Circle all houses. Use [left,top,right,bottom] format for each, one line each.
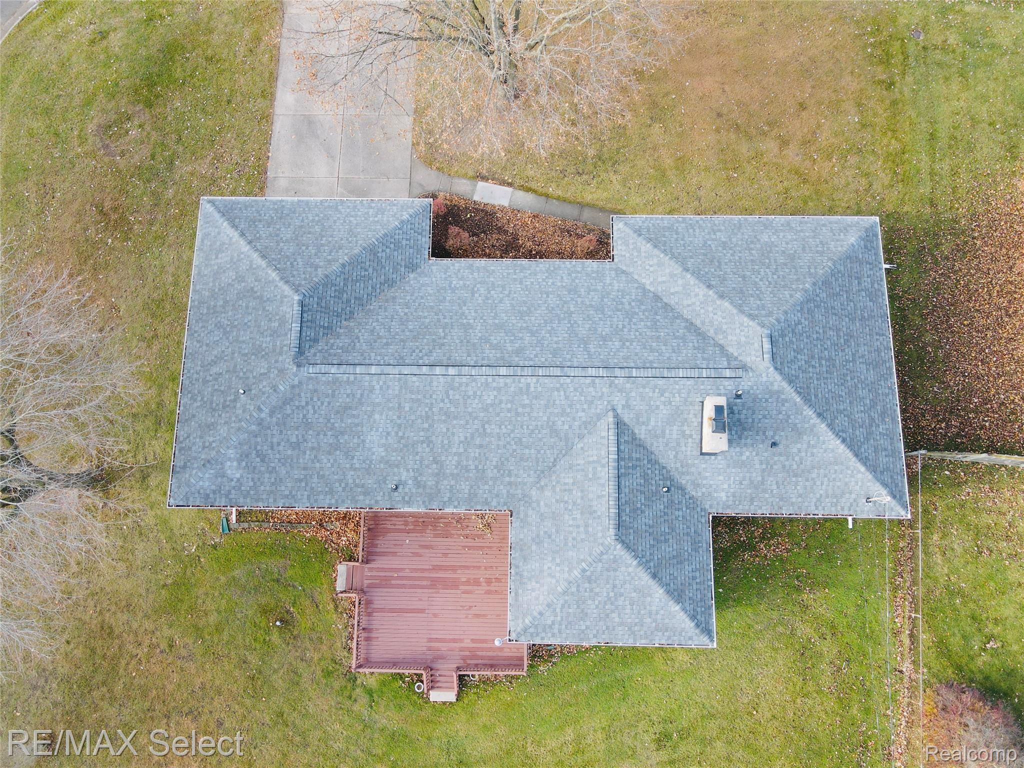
[168,198,910,646]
